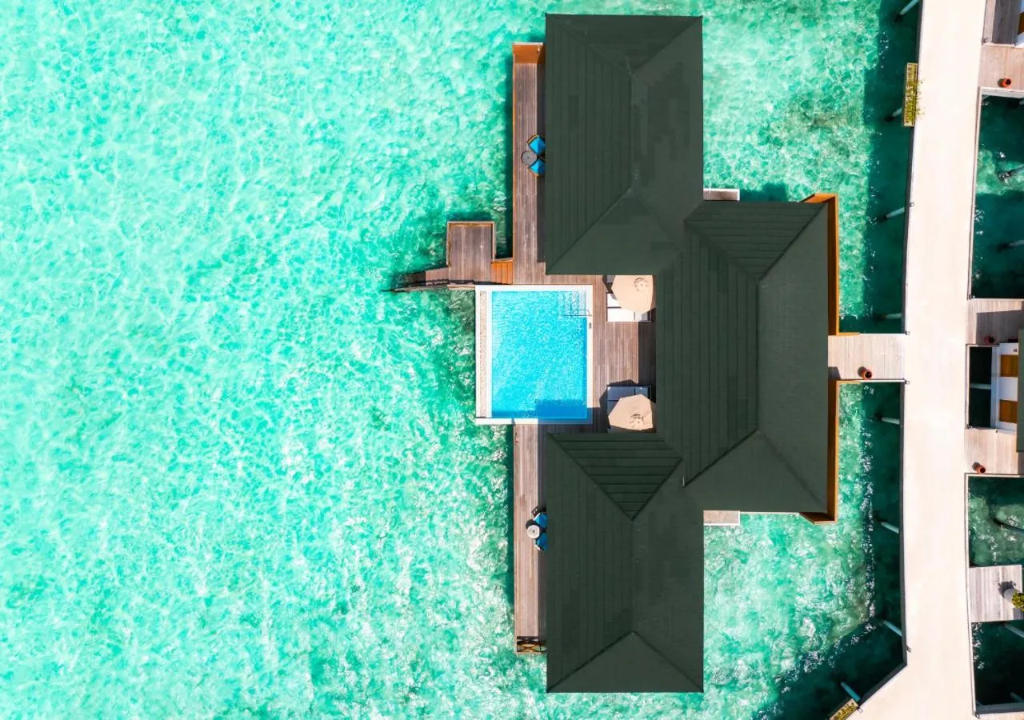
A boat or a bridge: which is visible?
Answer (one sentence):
The one in the frame is a bridge.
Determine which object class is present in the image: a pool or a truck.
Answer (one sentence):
The one in the frame is a pool.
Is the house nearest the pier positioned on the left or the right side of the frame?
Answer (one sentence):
It is on the right.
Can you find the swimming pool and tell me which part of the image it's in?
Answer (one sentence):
The swimming pool is located in the center region of the scene.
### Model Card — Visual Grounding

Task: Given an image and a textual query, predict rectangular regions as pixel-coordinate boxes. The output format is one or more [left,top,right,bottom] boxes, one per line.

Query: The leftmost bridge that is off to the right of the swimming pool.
[828,333,907,383]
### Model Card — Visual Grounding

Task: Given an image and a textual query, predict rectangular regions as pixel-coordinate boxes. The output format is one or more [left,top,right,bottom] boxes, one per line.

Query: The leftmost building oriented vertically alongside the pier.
[513,13,830,694]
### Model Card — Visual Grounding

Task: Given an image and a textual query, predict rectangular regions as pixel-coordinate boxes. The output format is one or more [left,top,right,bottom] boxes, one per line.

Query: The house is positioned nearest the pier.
[966,328,1024,454]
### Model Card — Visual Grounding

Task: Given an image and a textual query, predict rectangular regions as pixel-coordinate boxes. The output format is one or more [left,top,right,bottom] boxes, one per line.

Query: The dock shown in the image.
[846,0,986,720]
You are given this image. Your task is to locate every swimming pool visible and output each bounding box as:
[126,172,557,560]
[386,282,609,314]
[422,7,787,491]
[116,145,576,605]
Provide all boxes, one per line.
[476,285,593,424]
